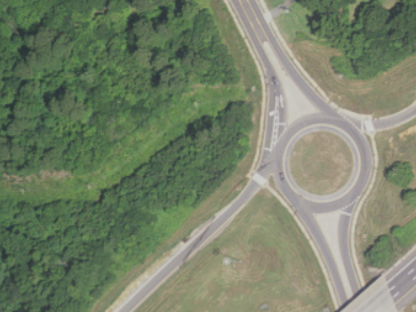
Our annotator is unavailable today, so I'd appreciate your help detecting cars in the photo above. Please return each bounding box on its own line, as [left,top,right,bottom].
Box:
[278,172,284,182]
[271,76,277,86]
[277,6,286,10]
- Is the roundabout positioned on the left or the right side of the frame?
right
